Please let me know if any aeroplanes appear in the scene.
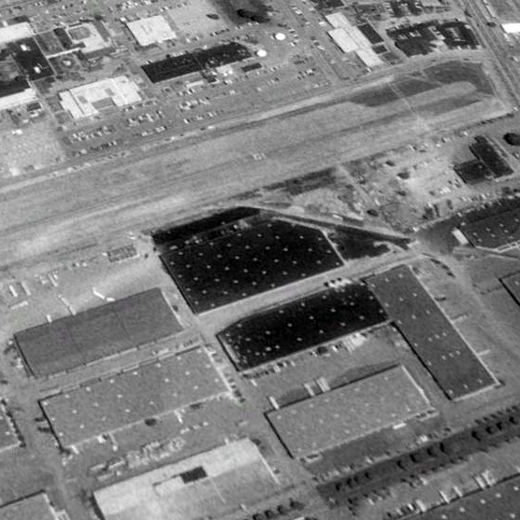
No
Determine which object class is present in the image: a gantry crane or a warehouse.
warehouse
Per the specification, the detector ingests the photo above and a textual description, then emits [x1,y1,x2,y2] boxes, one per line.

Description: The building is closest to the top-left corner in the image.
[0,21,35,45]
